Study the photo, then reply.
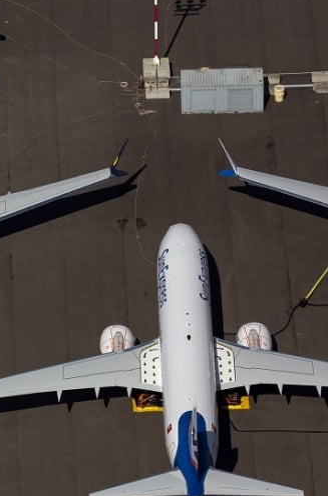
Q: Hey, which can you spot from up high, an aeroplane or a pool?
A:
aeroplane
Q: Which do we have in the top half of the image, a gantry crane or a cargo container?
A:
cargo container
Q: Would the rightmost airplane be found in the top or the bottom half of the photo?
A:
top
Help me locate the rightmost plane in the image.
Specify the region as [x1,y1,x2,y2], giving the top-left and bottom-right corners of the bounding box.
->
[220,140,328,206]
